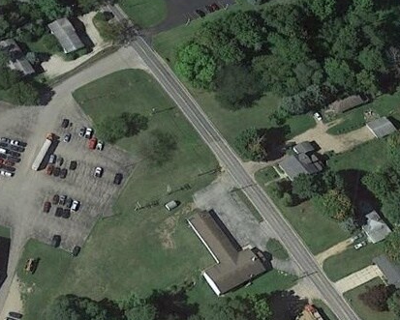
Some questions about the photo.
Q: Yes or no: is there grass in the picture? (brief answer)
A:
Yes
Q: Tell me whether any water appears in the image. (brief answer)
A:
No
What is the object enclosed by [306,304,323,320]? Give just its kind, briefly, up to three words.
vehicle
